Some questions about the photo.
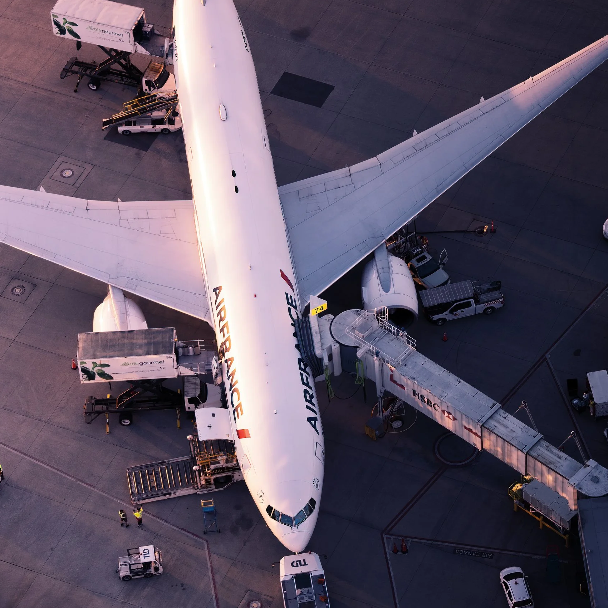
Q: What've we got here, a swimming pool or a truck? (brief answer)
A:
truck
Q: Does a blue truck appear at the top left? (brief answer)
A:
No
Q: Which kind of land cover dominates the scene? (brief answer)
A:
paved ground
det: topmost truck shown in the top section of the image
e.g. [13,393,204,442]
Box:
[50,0,178,105]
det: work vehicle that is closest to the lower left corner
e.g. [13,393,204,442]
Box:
[112,545,164,582]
